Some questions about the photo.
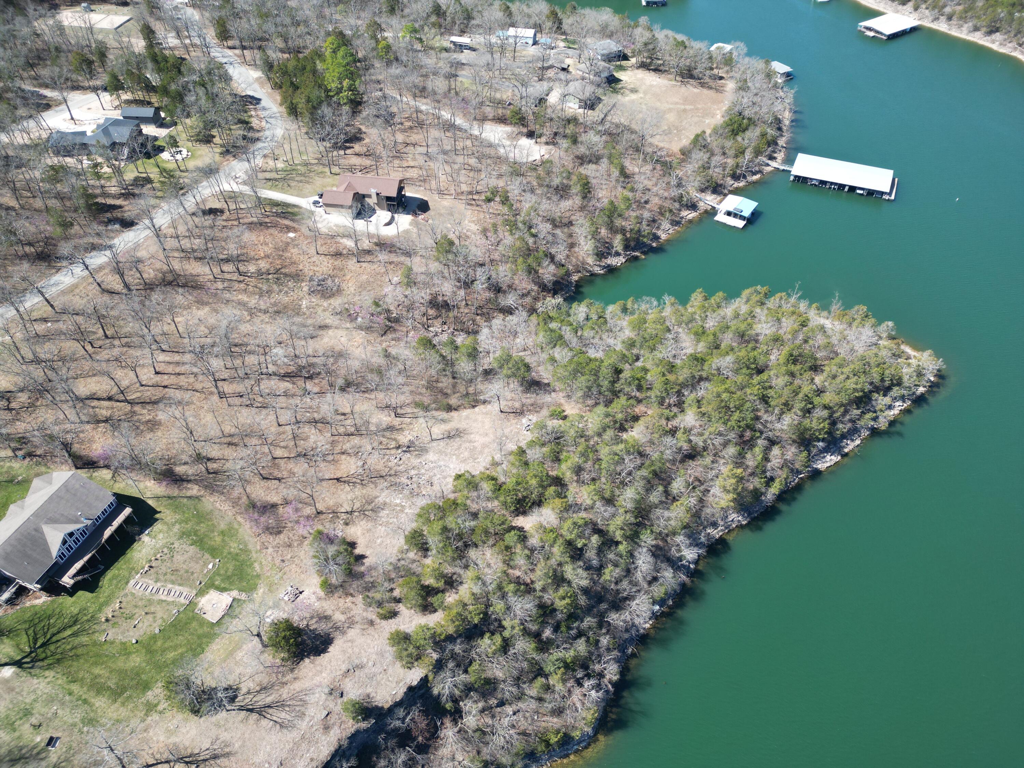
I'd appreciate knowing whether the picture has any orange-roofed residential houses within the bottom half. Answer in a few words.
No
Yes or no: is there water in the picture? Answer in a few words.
Yes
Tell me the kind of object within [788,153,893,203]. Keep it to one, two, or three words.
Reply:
pier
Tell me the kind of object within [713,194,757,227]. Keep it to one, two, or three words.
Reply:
pier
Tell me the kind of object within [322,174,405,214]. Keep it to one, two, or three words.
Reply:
house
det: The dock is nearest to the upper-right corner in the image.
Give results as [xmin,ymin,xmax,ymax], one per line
[855,13,919,41]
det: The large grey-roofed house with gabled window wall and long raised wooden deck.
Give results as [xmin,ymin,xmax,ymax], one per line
[0,469,141,602]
